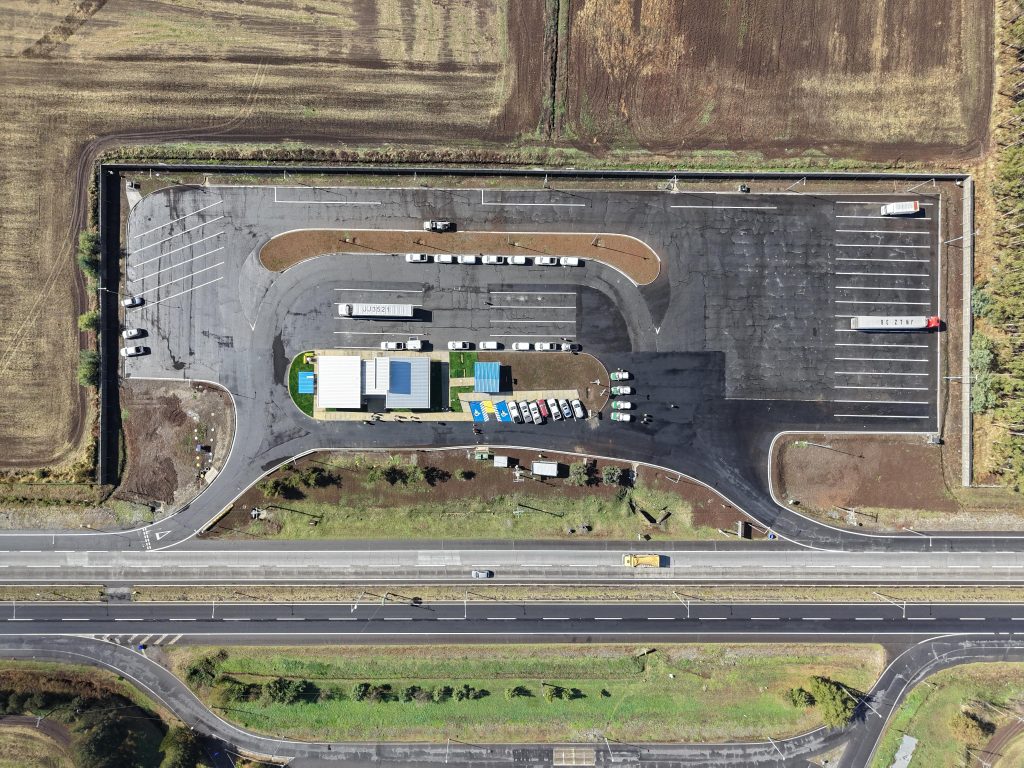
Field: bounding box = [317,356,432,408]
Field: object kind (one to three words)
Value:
building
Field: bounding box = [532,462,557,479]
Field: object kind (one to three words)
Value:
building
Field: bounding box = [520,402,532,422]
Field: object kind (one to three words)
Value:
vehicle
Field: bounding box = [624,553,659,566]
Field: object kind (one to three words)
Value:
vehicle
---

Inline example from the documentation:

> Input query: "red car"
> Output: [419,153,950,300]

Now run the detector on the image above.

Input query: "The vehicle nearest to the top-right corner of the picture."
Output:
[881,201,919,217]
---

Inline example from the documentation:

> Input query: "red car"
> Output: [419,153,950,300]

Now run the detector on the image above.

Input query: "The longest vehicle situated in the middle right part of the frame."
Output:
[851,316,938,329]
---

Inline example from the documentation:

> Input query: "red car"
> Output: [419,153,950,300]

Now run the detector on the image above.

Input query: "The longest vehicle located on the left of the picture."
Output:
[340,304,413,317]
